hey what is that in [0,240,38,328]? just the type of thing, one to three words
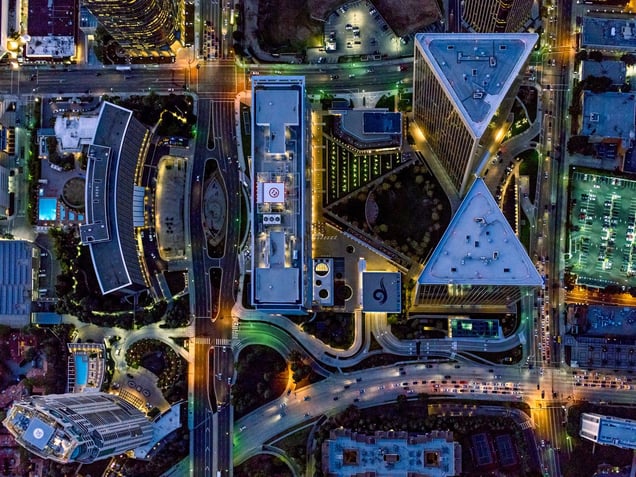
building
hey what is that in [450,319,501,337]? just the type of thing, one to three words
building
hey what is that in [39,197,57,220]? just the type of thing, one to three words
swimming pool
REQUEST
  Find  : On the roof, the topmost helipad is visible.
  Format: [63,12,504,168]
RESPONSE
[263,182,285,204]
